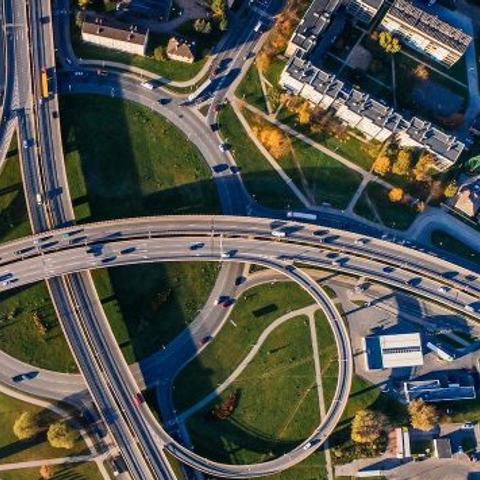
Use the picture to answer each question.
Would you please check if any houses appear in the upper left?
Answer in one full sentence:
Yes, a house shows up in the upper left.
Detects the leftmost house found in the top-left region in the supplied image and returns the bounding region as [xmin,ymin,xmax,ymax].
[82,11,151,50]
